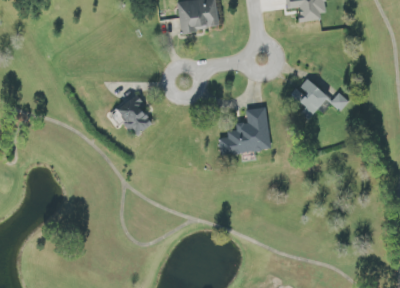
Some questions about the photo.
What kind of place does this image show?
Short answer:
golf course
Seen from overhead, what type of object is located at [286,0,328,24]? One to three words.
house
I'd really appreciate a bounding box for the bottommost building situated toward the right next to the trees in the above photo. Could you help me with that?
[218,106,272,156]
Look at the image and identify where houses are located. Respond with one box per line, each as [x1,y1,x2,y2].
[178,0,218,36]
[218,106,272,156]
[286,0,328,24]
[117,96,154,136]
[300,80,348,114]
